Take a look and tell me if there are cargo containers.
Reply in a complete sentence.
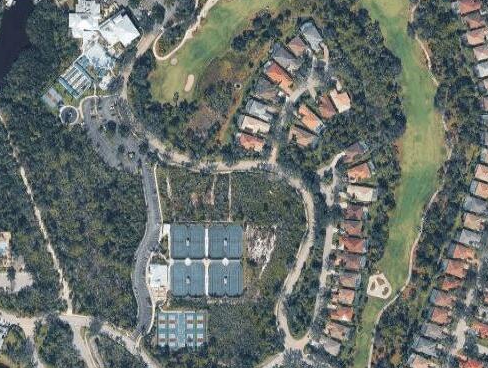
No, there appears to be no cargo container in this shot.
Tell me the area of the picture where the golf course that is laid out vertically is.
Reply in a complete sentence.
The golf course that is laid out vertically sits in the right section of the image.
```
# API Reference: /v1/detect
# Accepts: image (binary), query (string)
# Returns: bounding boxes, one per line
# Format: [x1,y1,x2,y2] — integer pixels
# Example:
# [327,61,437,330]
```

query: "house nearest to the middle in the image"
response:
[238,134,265,152]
